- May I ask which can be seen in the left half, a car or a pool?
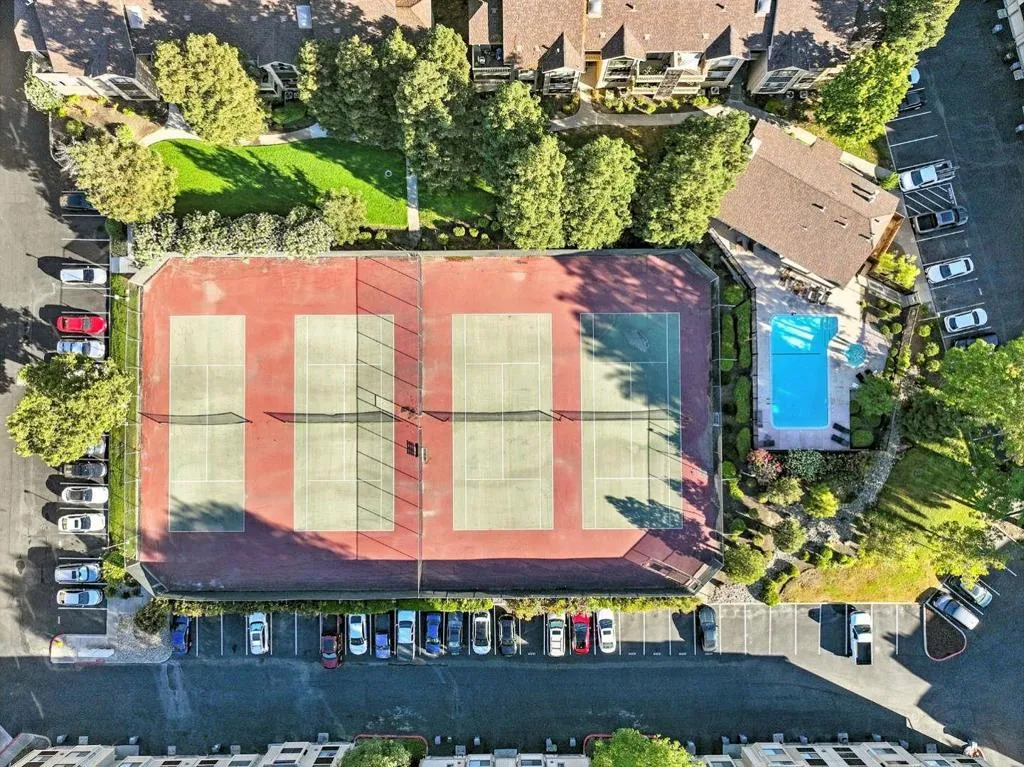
car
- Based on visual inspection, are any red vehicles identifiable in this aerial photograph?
Yes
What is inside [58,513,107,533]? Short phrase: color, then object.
white car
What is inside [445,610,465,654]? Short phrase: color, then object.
blue car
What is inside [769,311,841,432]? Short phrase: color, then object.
blue swimming pool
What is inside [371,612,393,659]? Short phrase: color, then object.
blue truck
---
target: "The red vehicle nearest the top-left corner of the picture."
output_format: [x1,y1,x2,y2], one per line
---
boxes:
[56,314,108,334]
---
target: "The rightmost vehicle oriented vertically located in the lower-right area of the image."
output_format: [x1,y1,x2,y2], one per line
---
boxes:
[849,609,874,666]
